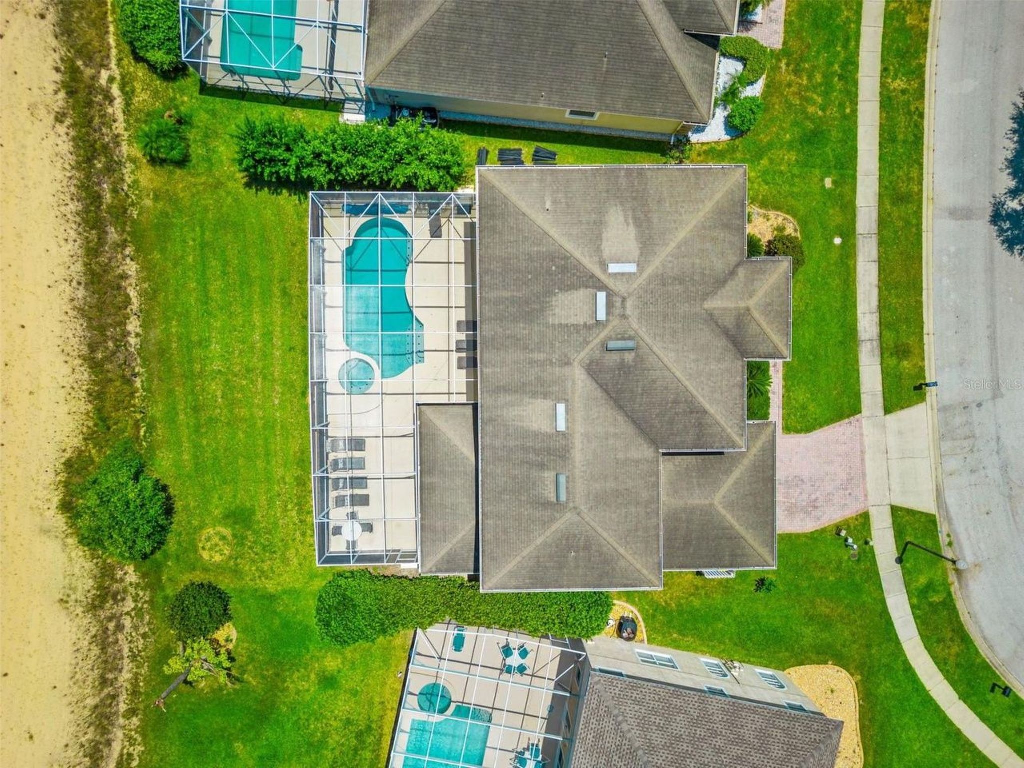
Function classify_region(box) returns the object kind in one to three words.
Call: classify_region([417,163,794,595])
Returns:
house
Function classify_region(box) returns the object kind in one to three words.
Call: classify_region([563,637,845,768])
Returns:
house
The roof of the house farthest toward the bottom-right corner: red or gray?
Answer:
gray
